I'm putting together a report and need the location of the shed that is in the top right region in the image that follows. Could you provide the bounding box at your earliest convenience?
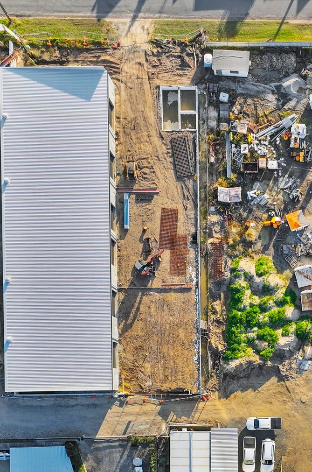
[212,49,249,75]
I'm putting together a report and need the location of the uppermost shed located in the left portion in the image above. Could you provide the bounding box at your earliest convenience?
[0,64,118,392]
